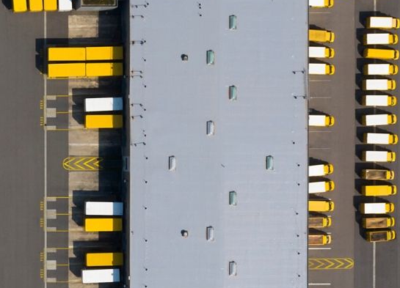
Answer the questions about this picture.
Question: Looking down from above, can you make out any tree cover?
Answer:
No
